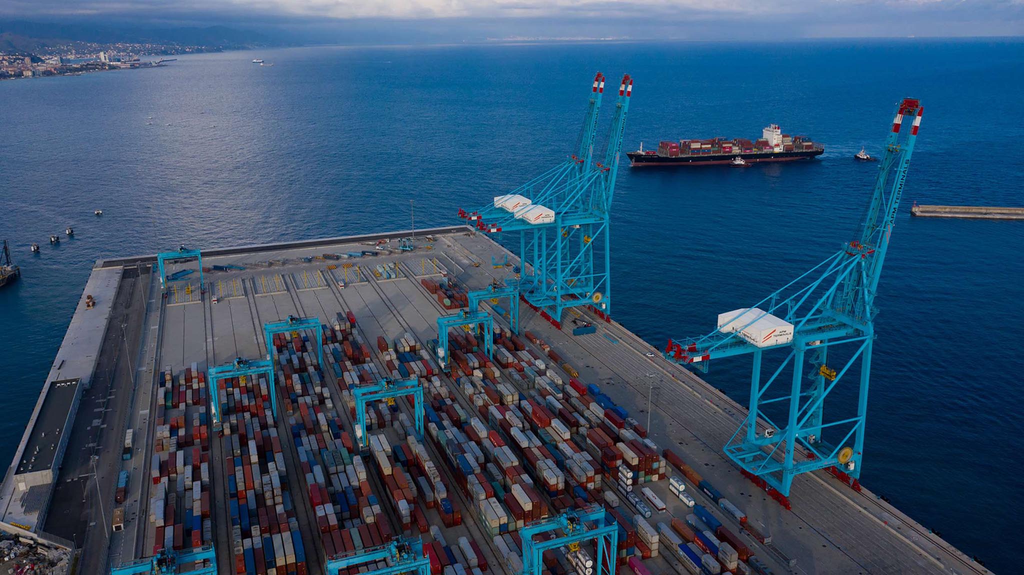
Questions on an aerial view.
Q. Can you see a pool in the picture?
No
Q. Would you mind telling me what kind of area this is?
port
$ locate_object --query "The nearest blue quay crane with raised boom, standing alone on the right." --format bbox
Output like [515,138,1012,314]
[657,97,925,509]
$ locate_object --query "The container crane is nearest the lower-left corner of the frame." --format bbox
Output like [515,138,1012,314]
[109,543,215,575]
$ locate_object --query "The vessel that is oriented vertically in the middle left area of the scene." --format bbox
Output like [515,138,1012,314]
[0,238,22,289]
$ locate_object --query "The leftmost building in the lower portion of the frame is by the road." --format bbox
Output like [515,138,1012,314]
[13,376,83,490]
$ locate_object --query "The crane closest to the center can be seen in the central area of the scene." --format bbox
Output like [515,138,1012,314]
[468,282,523,350]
